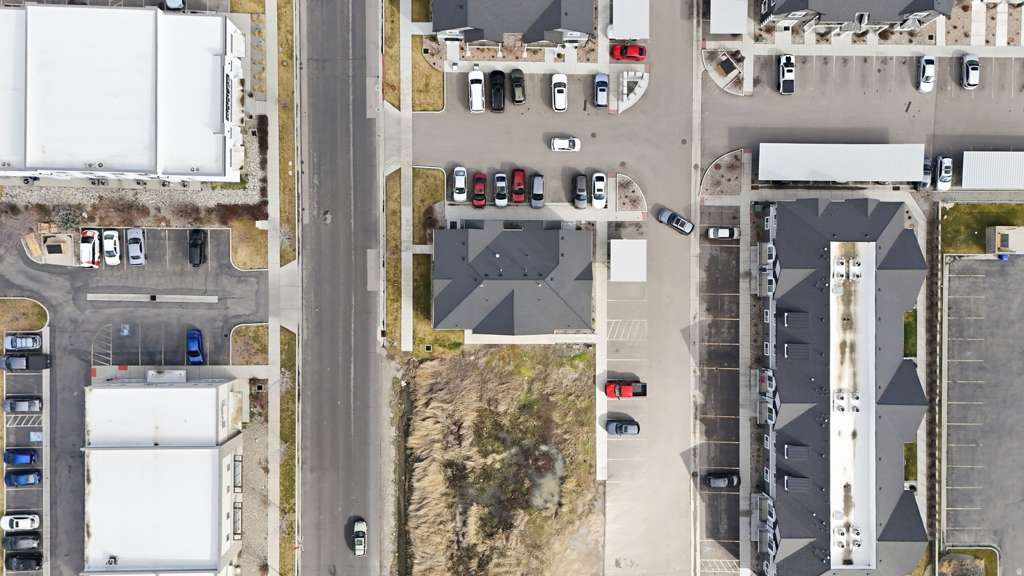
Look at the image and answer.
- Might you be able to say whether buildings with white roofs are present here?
Yes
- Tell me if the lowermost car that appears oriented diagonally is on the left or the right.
right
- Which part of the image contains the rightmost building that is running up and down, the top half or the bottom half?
bottom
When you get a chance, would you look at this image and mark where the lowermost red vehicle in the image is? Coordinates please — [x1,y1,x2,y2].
[604,381,648,400]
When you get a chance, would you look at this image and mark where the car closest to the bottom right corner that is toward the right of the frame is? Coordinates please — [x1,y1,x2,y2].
[705,472,740,490]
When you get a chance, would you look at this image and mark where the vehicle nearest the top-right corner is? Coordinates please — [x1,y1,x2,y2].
[959,54,981,90]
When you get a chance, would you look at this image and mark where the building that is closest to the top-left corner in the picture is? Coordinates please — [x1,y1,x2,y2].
[0,5,245,183]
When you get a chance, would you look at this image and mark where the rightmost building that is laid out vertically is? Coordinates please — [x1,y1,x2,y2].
[756,197,928,576]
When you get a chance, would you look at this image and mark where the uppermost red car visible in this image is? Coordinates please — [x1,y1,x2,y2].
[610,43,647,62]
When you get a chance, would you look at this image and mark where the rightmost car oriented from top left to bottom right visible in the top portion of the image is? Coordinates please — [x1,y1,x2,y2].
[657,207,695,237]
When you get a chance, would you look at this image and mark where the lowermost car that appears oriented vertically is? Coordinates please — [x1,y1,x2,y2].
[351,519,368,557]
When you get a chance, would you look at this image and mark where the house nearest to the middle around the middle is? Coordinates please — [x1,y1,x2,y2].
[432,219,594,337]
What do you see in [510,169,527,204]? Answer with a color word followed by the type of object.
red car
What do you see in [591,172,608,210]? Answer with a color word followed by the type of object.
white car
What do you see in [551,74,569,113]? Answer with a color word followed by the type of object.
white car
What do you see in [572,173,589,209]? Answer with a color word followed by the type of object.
gray car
